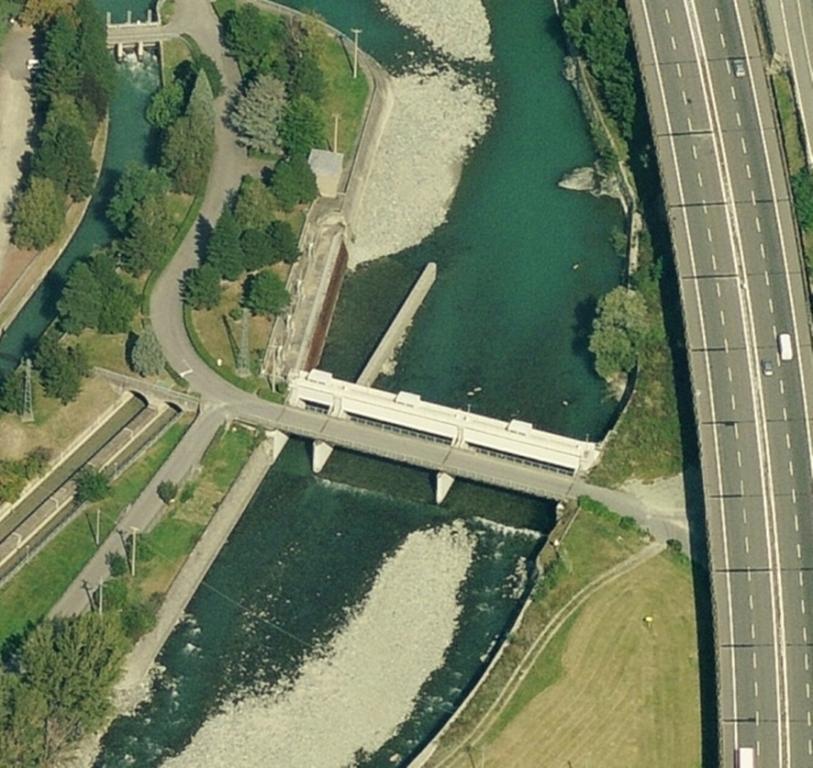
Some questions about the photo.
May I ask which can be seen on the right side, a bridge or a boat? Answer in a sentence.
It is a bridge that can be seen on the right side.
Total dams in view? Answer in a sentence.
The count comes to 1 dam.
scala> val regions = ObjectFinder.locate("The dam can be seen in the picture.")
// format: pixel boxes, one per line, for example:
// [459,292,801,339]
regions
[275,362,599,485]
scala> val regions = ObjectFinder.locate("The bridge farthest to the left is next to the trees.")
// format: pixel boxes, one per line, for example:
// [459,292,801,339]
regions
[103,12,182,73]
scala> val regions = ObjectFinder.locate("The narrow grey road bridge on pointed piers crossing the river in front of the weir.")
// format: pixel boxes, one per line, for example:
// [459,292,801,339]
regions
[260,405,577,504]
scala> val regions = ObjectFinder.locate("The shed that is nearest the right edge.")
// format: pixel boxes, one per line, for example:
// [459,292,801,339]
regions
[309,149,342,195]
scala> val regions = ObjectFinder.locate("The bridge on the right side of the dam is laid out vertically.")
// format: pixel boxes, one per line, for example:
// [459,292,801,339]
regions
[624,0,813,768]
